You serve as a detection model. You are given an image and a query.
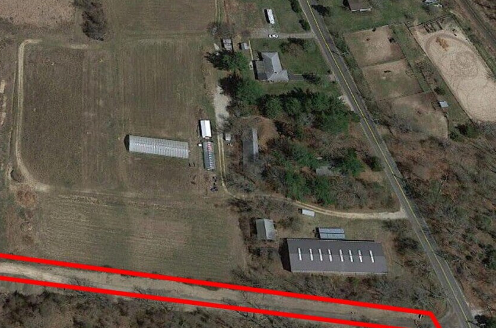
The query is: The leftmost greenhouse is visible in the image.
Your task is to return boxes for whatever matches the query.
[128,133,190,158]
